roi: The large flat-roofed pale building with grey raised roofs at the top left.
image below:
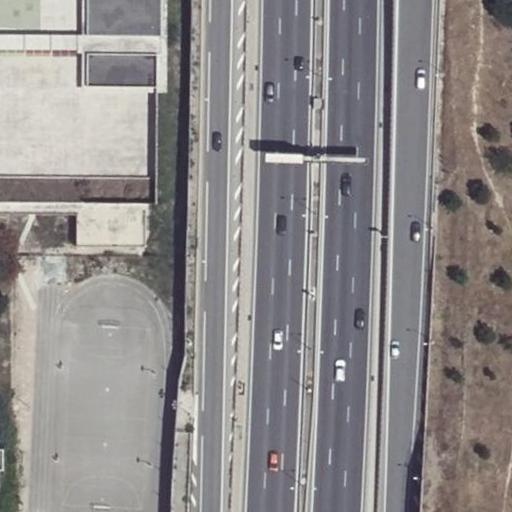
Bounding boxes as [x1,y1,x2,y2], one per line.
[0,0,168,178]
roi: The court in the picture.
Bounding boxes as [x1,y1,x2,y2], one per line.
[64,327,150,512]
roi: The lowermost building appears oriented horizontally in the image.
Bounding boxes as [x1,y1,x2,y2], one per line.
[0,202,148,250]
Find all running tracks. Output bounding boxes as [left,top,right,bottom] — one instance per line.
[29,276,176,512]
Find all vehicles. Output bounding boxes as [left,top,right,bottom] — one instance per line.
[295,56,304,71]
[417,68,426,88]
[269,450,278,470]
[264,82,274,102]
[356,308,365,328]
[212,132,222,151]
[277,216,287,235]
[342,174,352,195]
[412,222,421,242]
[274,330,284,350]
[336,360,346,381]
[390,341,400,359]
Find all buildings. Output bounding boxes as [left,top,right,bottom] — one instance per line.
[0,0,168,178]
[0,202,148,250]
